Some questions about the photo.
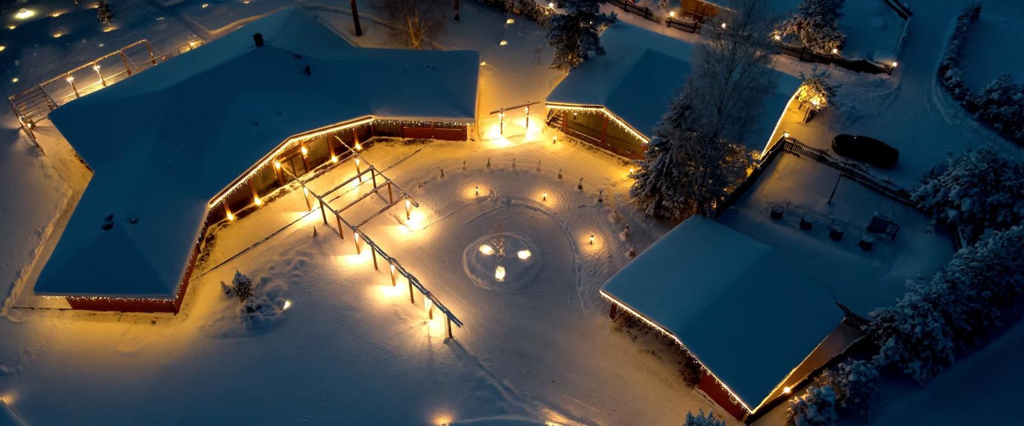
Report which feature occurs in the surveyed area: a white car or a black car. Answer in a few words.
black car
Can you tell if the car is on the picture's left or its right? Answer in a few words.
right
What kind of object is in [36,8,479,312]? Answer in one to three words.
house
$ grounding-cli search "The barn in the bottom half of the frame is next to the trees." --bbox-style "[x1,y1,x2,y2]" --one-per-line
[599,217,844,423]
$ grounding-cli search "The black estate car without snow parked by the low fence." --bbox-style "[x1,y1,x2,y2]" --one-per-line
[834,135,905,173]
